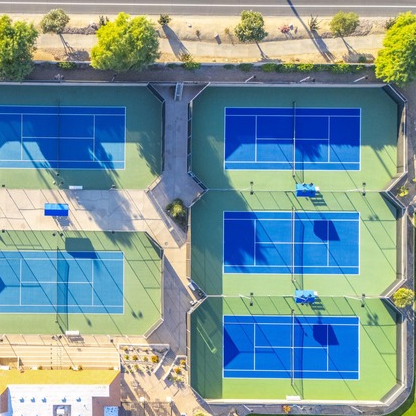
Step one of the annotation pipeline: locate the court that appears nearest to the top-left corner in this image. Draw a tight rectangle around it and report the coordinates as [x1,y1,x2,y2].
[0,85,162,189]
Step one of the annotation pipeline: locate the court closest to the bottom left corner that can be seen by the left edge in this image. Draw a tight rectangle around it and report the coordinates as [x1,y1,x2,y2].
[0,232,161,335]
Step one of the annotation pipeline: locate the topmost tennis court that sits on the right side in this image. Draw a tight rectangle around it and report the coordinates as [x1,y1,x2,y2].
[194,86,397,192]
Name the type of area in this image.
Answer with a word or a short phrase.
sports ground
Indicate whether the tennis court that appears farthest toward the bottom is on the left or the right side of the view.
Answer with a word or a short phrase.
right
